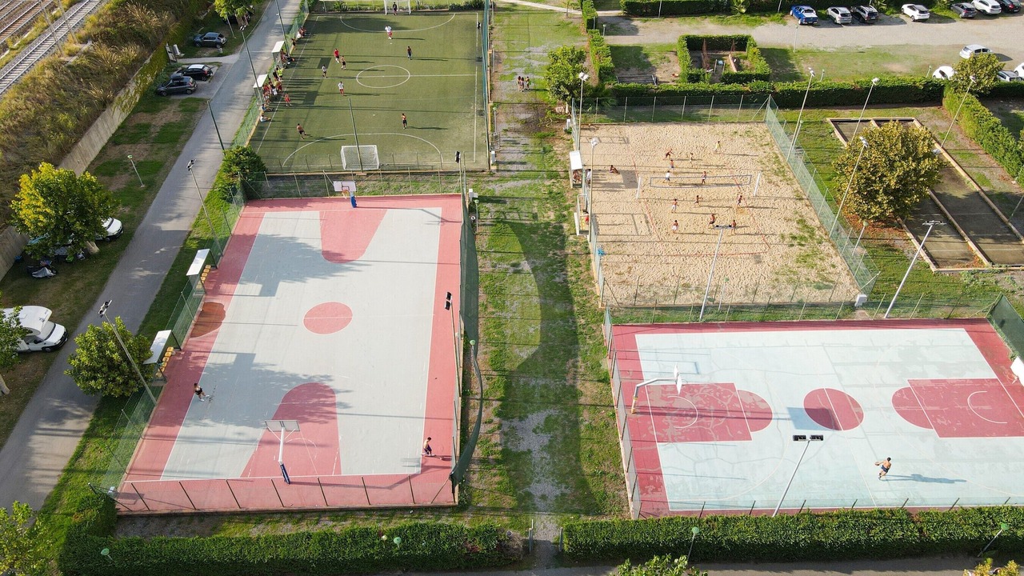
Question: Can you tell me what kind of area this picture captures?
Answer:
sports ground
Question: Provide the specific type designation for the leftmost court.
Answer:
basketball court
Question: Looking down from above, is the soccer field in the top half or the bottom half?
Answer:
top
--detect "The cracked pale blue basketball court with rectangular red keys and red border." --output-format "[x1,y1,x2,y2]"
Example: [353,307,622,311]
[607,315,1024,524]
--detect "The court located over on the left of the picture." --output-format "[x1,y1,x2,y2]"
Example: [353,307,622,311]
[114,193,460,513]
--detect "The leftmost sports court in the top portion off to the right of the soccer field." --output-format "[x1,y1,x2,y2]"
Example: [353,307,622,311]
[575,118,866,308]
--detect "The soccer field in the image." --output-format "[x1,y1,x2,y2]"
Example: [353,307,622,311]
[238,9,487,173]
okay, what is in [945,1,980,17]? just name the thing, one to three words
car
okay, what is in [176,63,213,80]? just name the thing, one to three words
car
